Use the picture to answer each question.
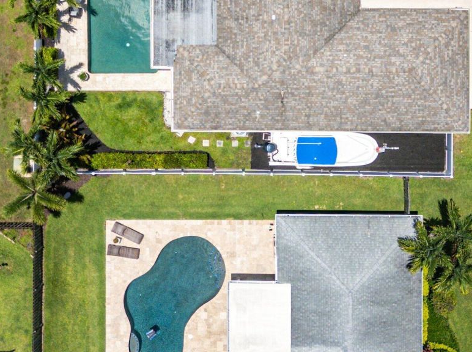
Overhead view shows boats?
Yes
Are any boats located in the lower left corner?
No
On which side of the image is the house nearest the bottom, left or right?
right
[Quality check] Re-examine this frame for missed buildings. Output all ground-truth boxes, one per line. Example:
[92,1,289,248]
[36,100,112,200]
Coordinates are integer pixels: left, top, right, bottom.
[149,0,471,133]
[227,213,424,352]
